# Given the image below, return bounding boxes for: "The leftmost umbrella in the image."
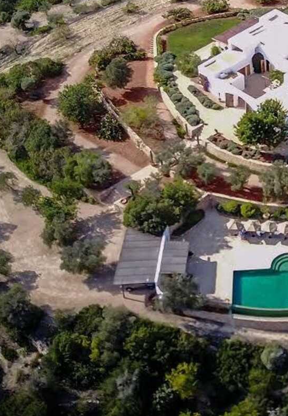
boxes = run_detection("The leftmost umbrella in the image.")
[225,222,243,239]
